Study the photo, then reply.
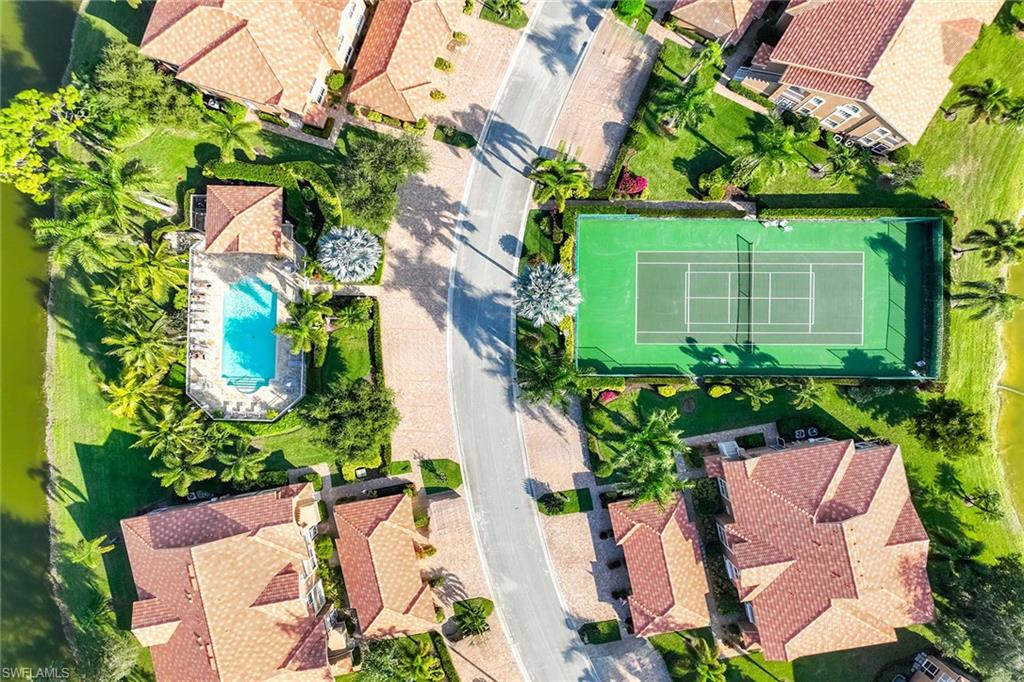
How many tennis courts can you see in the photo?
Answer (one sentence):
In total, there is 1 tennis court in the scene.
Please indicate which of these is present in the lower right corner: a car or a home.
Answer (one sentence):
The one visible in the lower right corner is a home.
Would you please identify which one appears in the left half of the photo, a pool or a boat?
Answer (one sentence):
It is a pool that can be seen in the left half of the photo.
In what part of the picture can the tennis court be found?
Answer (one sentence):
The tennis court is located in the right region of the scene.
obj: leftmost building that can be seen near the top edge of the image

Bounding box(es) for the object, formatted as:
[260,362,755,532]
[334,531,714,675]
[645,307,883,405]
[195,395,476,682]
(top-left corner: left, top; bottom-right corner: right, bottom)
[139,0,369,126]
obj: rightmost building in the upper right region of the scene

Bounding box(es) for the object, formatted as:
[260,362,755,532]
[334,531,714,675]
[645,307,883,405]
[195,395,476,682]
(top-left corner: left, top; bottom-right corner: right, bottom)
[735,0,1005,157]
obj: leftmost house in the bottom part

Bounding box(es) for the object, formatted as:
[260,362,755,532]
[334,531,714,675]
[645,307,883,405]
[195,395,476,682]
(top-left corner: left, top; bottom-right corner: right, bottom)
[119,477,358,682]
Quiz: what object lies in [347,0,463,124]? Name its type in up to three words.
building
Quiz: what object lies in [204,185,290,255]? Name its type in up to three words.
building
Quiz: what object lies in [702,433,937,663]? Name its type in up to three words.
house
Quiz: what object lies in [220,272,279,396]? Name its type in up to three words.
swimming pool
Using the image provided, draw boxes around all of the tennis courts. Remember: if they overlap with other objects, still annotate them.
[574,220,923,378]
